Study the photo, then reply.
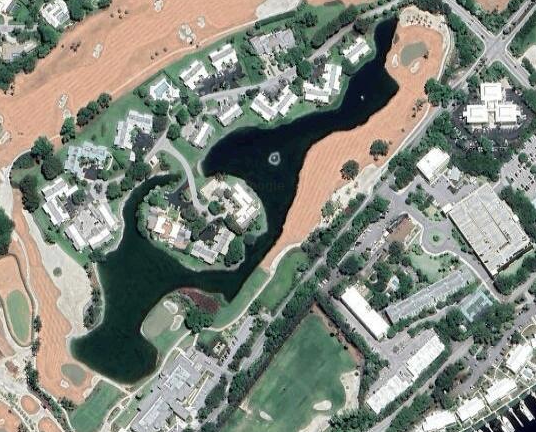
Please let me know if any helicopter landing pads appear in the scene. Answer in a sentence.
No, the picture doesn't show any helicopter landing pad.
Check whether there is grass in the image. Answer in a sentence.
Yes, grass can be seen from above here.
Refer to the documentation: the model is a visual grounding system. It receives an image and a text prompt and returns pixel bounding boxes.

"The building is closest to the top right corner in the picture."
[463,83,519,131]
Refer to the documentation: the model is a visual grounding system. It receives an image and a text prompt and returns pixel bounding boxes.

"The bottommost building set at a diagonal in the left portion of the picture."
[129,346,219,432]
